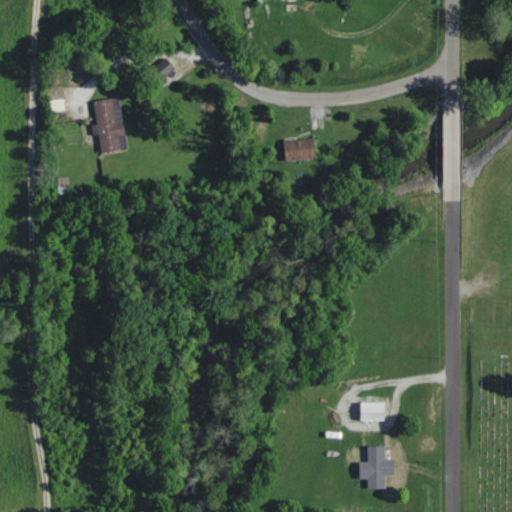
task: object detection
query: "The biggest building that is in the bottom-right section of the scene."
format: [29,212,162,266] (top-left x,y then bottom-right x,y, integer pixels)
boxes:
[360,446,394,490]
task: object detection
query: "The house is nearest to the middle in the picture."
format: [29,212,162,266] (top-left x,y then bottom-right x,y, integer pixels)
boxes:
[284,138,316,163]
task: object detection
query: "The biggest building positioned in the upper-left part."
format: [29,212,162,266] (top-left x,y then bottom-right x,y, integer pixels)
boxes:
[94,100,127,156]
